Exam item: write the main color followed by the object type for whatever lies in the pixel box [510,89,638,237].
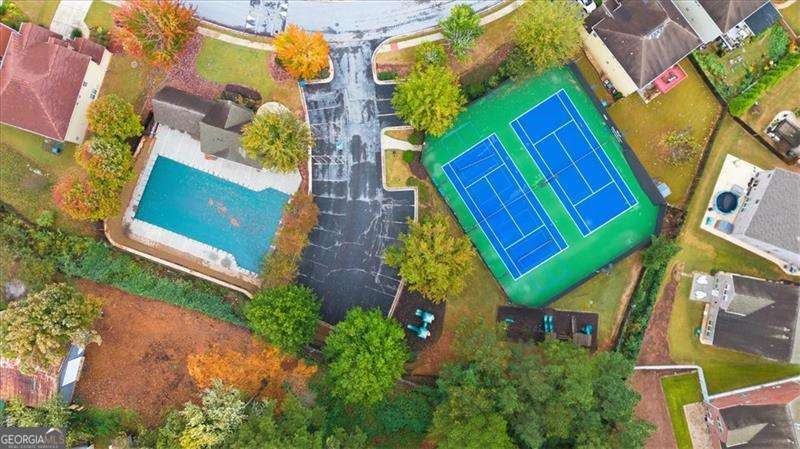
blue tennis court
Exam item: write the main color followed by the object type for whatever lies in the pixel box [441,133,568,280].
blue tennis court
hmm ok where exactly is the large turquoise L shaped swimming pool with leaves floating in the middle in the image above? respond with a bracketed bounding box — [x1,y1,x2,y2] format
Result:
[132,155,293,277]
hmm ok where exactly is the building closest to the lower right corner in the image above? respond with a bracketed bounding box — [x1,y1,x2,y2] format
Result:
[703,395,796,449]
